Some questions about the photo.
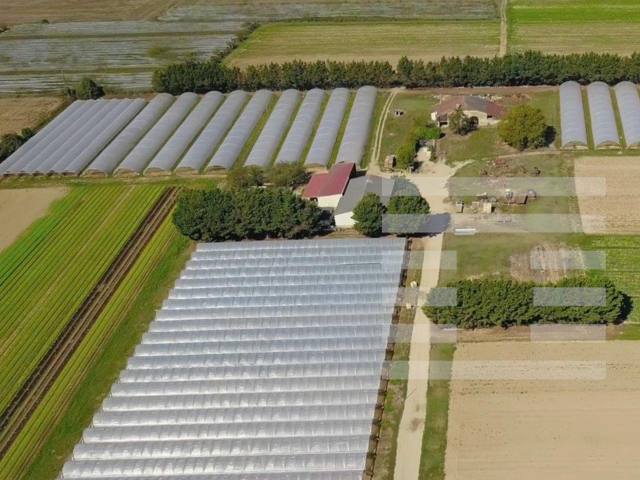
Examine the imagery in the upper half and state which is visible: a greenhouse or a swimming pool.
greenhouse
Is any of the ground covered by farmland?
Yes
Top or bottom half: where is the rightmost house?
top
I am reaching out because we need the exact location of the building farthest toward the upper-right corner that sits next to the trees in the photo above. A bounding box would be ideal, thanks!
[436,92,510,128]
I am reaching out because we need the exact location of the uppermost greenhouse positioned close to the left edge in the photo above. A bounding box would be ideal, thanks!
[0,95,146,178]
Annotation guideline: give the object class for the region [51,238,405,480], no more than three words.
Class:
greenhouse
